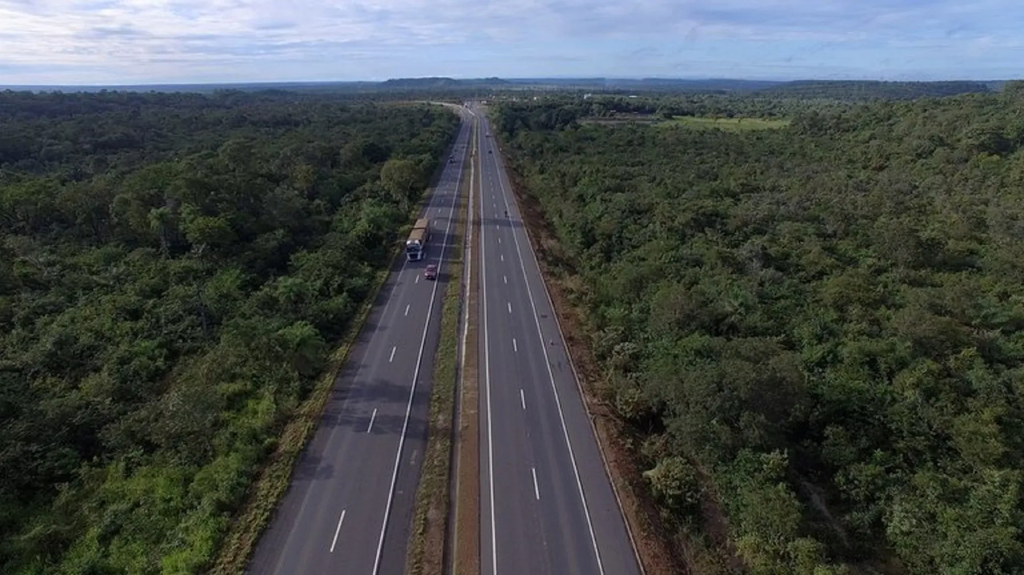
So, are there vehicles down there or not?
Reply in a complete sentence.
Yes, a vehicle can be made out from above.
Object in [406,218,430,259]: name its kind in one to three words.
truck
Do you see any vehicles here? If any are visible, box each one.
[426,266,437,278]
[406,218,430,259]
